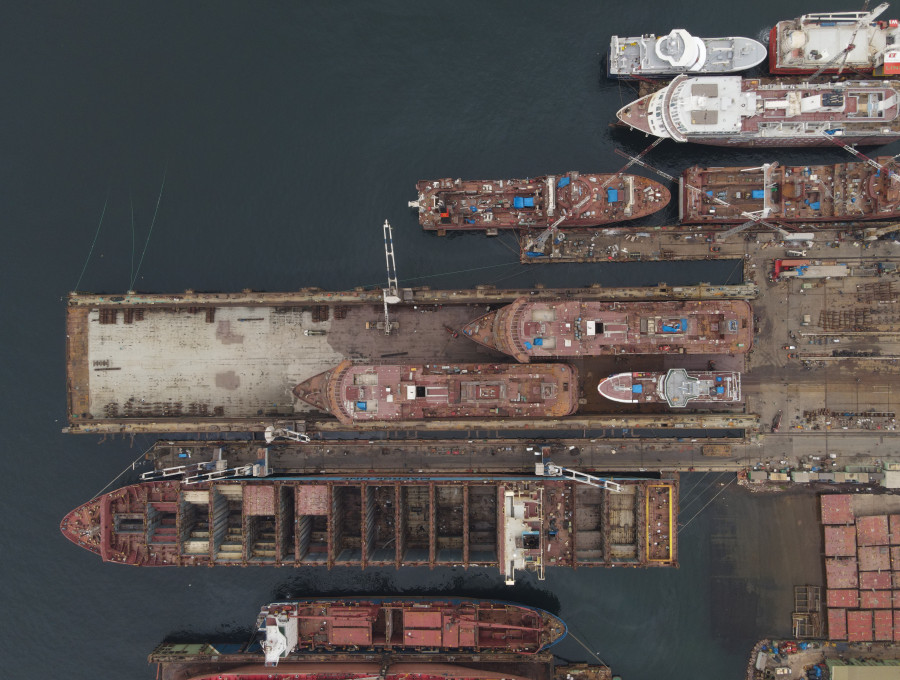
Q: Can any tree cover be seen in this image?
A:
No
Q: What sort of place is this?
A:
port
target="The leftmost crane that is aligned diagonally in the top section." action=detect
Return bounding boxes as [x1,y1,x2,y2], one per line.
[519,140,661,258]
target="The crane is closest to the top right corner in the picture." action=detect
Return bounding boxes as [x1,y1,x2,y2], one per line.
[845,1,894,40]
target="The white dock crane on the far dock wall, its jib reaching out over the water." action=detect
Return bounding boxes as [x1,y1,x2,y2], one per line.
[382,219,413,335]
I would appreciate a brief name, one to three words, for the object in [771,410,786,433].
vehicle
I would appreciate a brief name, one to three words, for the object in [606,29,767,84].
ship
